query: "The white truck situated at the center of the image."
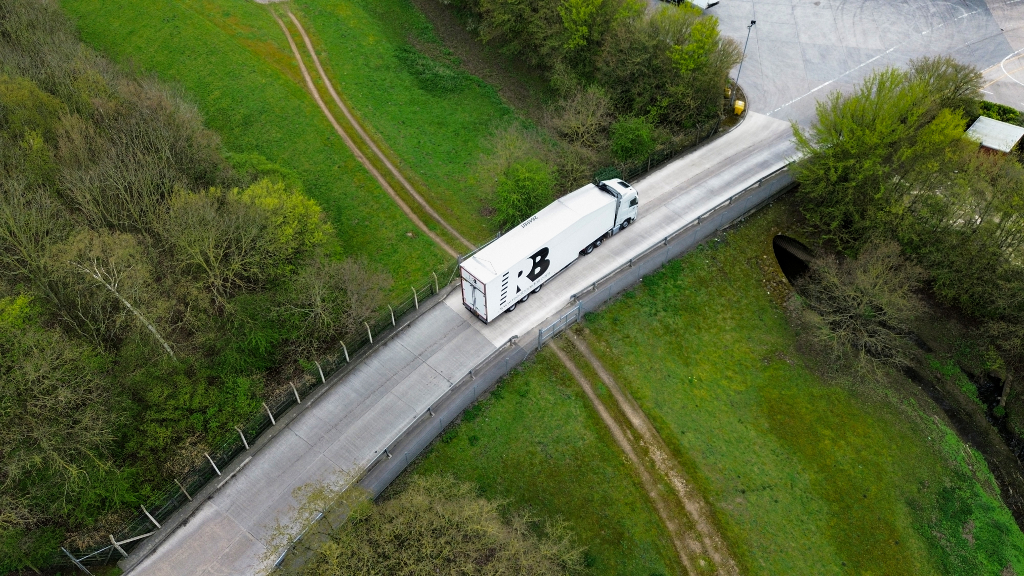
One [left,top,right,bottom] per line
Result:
[460,179,640,325]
